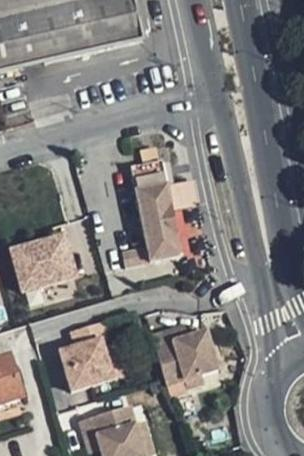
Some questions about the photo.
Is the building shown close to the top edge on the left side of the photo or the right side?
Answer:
left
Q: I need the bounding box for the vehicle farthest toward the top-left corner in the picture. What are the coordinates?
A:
[0,88,22,101]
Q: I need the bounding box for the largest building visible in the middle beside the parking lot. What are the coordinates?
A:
[123,146,200,268]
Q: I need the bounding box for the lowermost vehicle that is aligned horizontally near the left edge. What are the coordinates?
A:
[8,154,32,168]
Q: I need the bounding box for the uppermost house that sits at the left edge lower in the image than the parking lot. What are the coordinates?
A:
[10,232,84,309]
